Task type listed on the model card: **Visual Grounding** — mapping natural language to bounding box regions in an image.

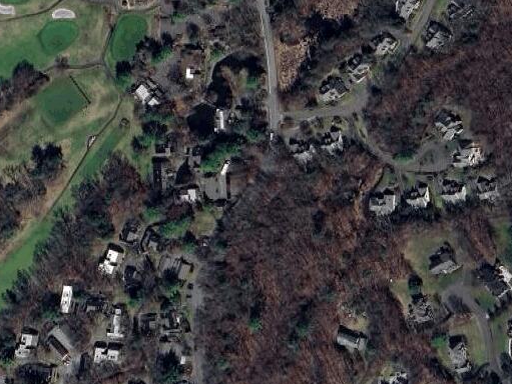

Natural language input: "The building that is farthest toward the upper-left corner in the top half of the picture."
[133,80,163,106]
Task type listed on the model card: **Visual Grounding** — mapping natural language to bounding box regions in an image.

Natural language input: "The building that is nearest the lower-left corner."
[16,330,38,356]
